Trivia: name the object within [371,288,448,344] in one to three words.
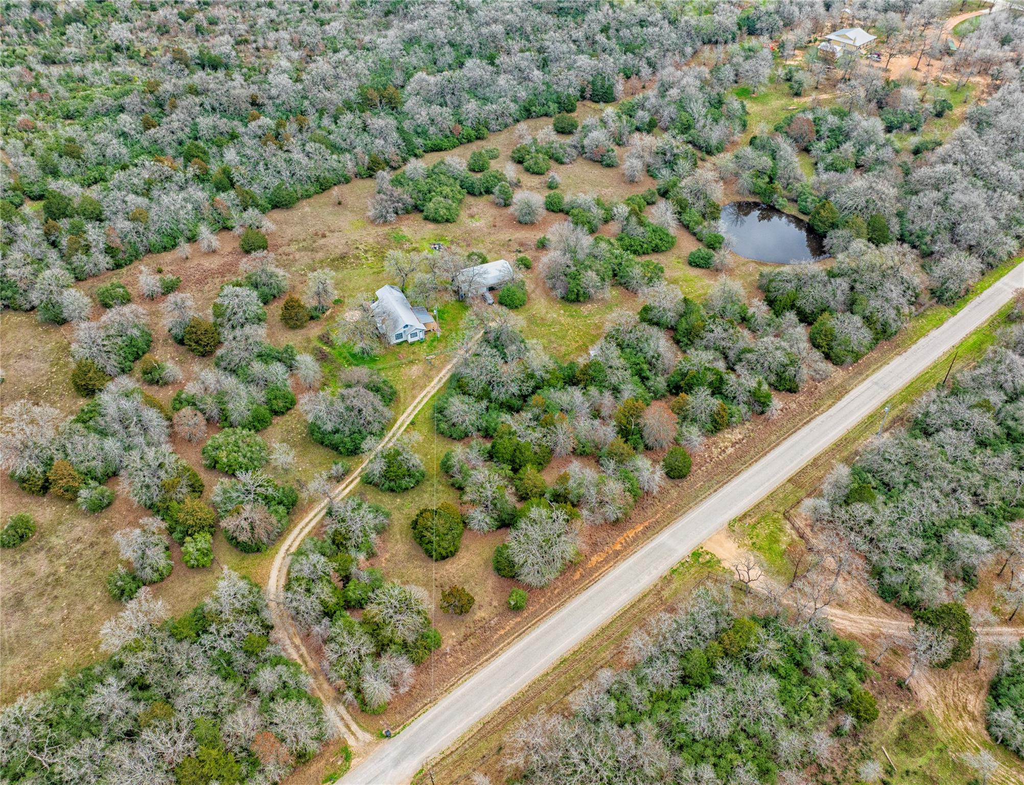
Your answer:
house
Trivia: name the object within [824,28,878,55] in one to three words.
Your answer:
house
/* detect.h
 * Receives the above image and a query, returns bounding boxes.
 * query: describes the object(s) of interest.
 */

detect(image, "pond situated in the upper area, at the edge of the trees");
[716,201,843,268]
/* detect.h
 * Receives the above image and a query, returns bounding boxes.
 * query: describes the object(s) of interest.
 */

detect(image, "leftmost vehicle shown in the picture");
[482,291,496,303]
